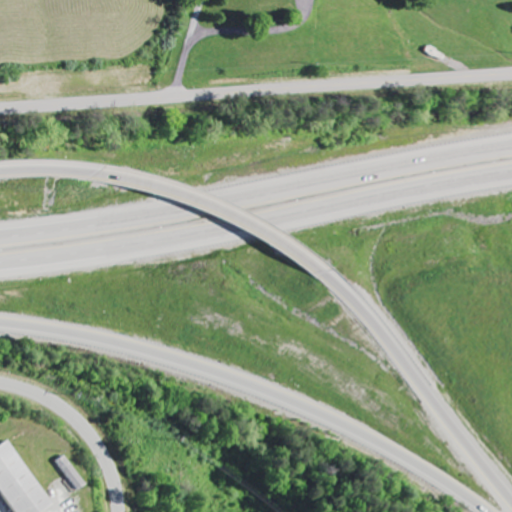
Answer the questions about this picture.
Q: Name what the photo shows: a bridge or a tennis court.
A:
bridge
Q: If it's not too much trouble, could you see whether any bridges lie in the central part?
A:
Yes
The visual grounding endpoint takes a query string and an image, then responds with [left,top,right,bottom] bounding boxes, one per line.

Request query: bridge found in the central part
[90,160,344,292]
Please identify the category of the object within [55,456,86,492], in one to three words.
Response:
shed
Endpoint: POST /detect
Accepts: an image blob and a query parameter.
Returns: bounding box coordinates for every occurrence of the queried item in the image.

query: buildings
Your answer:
[55,456,86,492]
[0,441,60,512]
